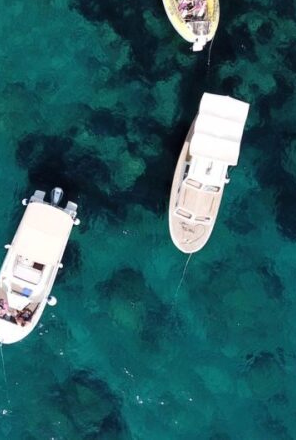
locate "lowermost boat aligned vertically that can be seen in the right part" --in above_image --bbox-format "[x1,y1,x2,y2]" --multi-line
[171,93,248,253]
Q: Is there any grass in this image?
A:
No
